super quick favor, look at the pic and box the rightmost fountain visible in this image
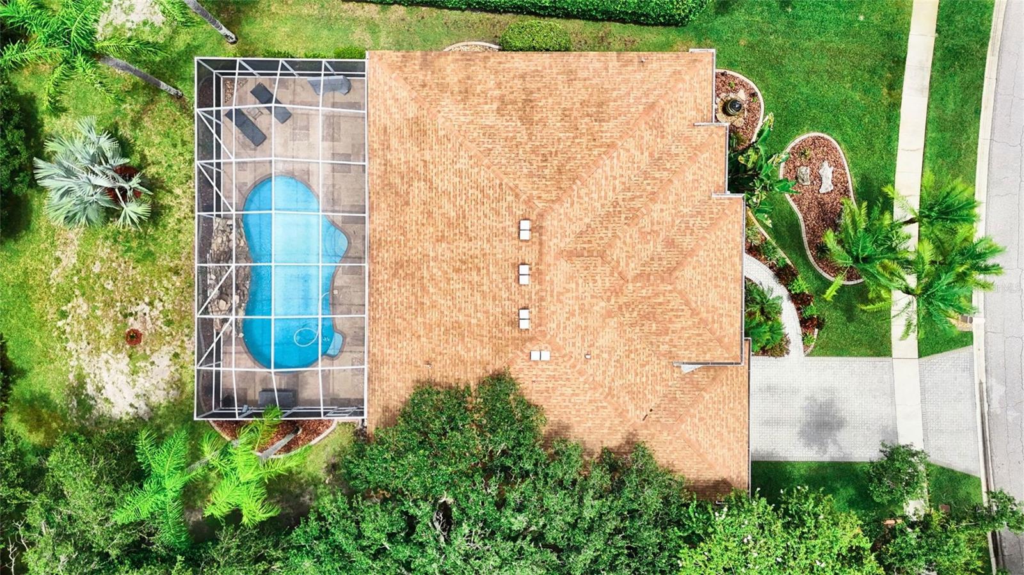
[728,93,748,112]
